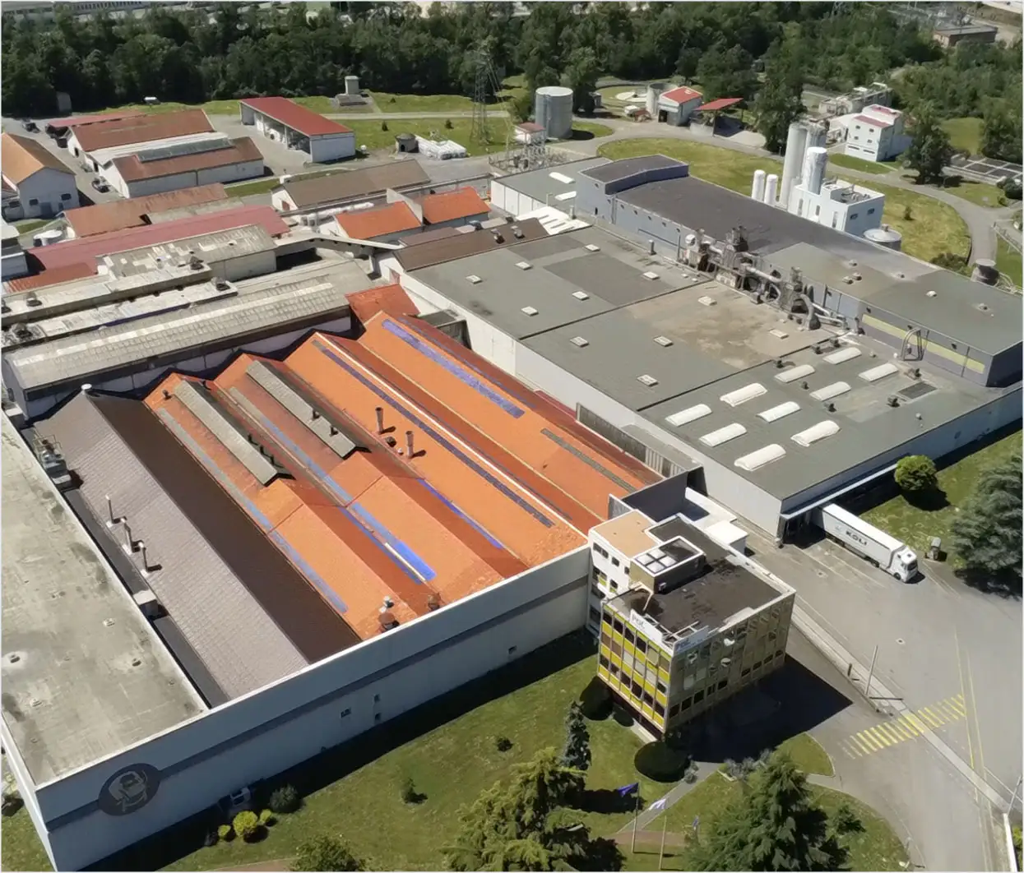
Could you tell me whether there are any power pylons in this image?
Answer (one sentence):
Yes, there's a power pylon down there.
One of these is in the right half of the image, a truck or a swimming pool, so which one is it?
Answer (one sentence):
Visible in the right half of the image is a truck.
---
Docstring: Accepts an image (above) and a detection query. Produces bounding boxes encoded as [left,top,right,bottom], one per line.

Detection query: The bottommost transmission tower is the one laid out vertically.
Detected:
[459,46,493,145]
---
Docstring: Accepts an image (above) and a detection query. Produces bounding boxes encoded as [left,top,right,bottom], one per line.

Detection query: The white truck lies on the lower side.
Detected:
[814,503,921,581]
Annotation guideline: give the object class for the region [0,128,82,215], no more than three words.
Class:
house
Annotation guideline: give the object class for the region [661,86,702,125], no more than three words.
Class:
building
